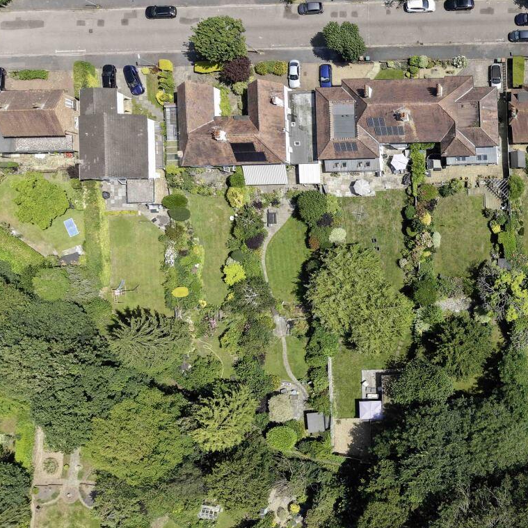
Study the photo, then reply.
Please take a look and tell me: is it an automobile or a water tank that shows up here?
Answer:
automobile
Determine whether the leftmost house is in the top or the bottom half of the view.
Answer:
top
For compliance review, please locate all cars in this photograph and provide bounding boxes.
[515,10,528,26]
[318,63,332,87]
[104,63,117,88]
[404,0,436,13]
[287,60,301,88]
[444,0,475,12]
[124,64,146,96]
[147,2,178,20]
[489,63,503,90]
[299,0,325,15]
[508,27,528,42]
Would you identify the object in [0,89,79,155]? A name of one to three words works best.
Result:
house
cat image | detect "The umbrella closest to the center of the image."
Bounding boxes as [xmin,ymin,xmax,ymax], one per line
[353,179,370,197]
